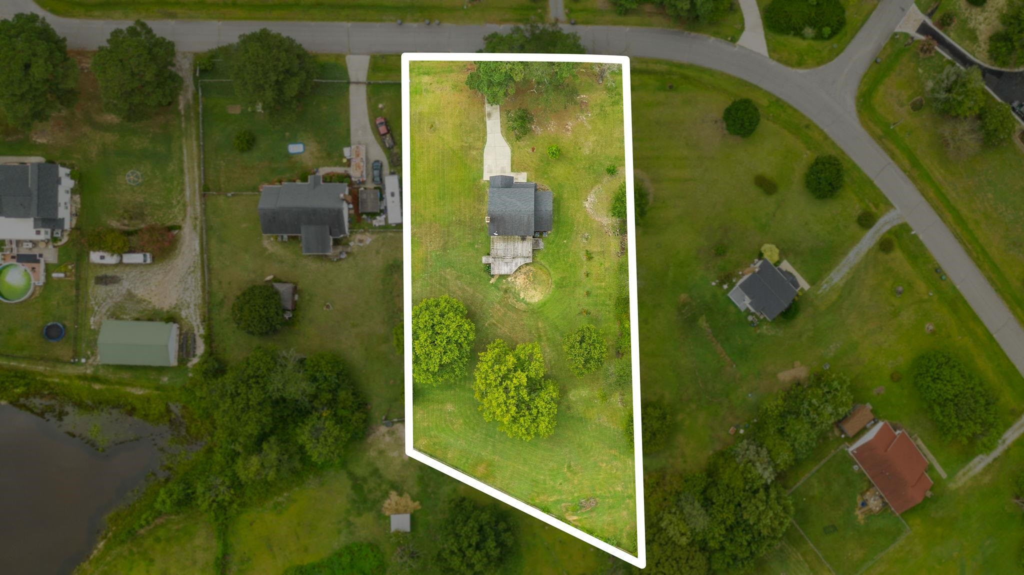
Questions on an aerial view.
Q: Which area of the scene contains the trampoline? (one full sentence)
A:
Look in the left portion of the view to spot the trampoline.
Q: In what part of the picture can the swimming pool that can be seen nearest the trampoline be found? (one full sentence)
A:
The swimming pool that can be seen nearest the trampoline is in the left part of the image.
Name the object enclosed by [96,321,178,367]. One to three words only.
shed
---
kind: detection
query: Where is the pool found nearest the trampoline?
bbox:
[0,261,38,303]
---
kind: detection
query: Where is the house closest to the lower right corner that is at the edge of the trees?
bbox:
[847,424,937,514]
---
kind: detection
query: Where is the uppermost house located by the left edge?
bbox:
[0,161,74,239]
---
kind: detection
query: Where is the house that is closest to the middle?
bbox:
[486,174,553,236]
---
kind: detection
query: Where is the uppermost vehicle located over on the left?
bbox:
[376,115,394,148]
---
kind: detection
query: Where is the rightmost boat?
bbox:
[351,145,366,181]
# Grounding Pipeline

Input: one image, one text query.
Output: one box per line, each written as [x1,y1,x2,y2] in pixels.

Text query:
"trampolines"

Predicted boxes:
[40,321,62,342]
